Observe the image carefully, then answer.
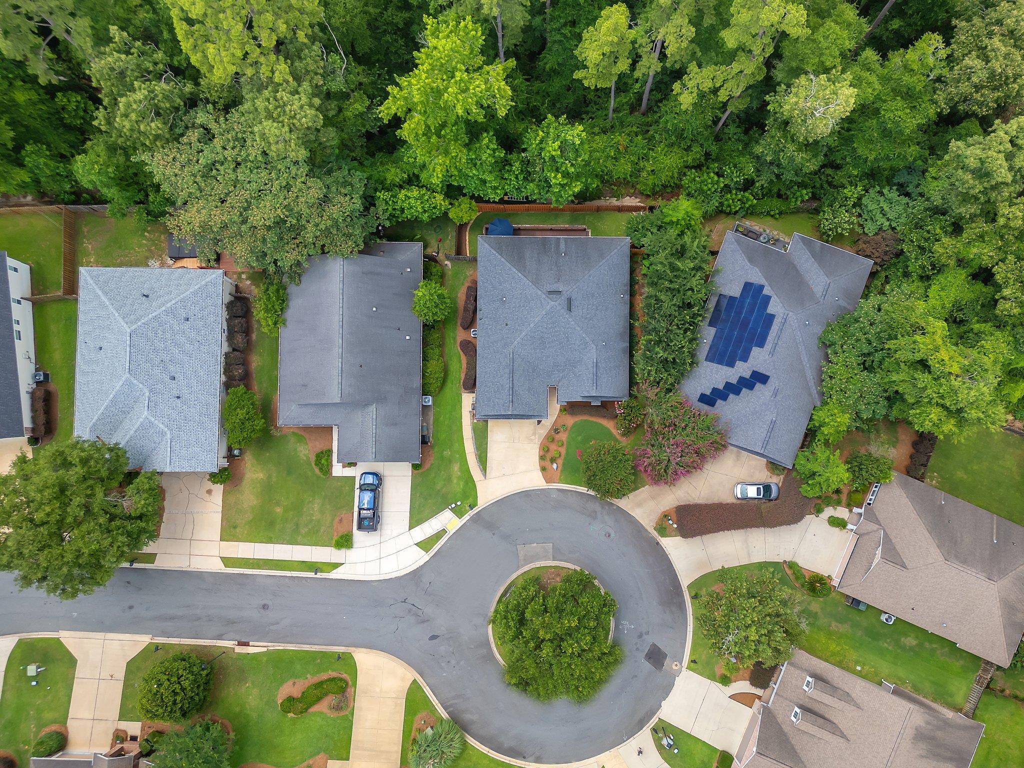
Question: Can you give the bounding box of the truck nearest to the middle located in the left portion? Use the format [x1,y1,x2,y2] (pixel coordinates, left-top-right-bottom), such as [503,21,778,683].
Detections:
[356,471,383,534]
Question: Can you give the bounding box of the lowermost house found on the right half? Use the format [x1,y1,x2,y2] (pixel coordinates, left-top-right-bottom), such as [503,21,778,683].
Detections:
[734,647,986,768]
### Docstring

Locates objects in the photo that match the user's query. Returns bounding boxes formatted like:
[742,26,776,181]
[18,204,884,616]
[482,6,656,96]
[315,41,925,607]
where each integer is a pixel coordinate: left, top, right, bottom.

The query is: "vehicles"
[733,480,779,504]
[356,471,383,534]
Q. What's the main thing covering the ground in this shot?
trees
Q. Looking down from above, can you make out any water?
No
